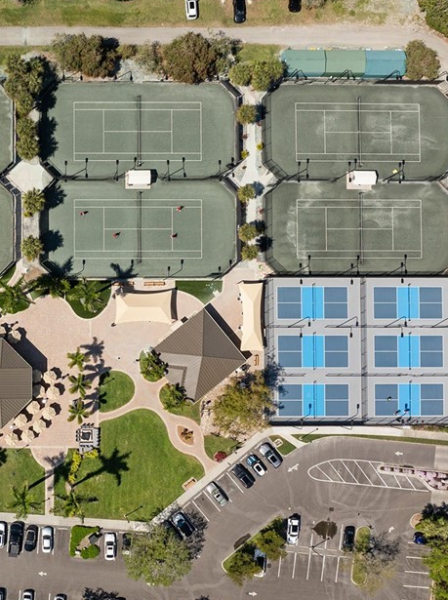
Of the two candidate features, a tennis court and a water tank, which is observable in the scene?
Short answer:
tennis court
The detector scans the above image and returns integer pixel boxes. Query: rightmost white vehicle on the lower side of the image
[287,516,301,543]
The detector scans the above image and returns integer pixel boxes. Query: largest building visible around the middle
[153,308,246,404]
